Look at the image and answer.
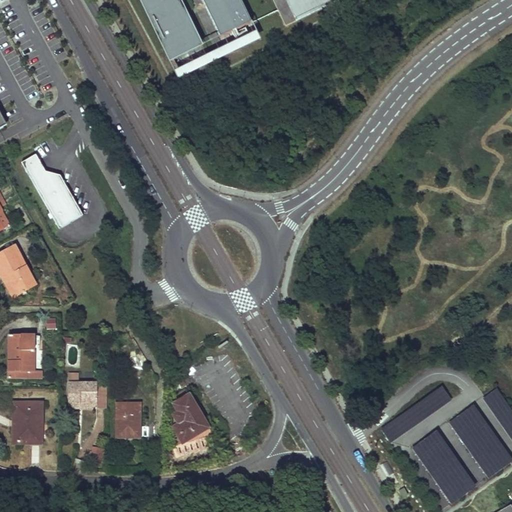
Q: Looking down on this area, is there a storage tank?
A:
No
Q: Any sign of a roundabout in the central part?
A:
Yes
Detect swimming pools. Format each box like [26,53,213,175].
[66,344,80,368]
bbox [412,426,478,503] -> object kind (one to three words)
building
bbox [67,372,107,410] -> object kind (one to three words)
house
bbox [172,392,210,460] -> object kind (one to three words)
house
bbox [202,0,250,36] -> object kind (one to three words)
building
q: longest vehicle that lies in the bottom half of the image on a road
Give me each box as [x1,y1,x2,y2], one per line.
[354,450,367,472]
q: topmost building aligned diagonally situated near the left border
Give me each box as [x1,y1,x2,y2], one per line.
[22,152,83,229]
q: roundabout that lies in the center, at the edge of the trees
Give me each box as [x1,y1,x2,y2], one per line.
[162,190,296,328]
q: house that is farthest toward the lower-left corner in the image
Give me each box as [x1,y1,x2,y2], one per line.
[12,400,45,445]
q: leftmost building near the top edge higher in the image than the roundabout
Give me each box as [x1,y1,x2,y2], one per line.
[138,0,202,61]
